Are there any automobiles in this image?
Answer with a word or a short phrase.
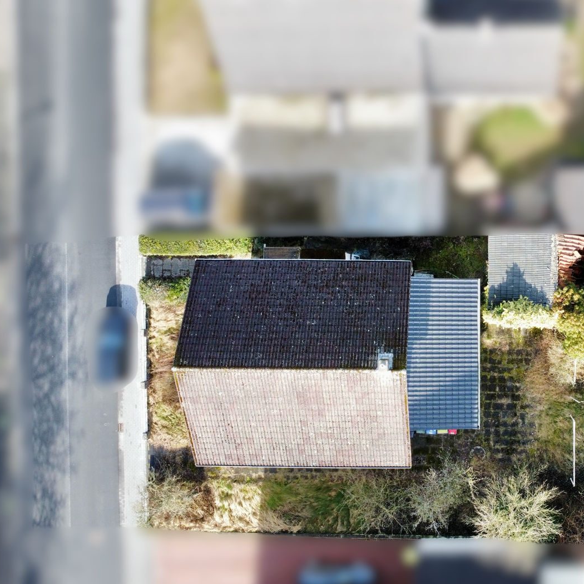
Yes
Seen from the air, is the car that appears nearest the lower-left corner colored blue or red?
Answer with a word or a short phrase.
blue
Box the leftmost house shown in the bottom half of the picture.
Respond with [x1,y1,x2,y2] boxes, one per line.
[172,257,414,469]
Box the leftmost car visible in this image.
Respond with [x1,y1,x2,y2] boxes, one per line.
[91,311,128,379]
